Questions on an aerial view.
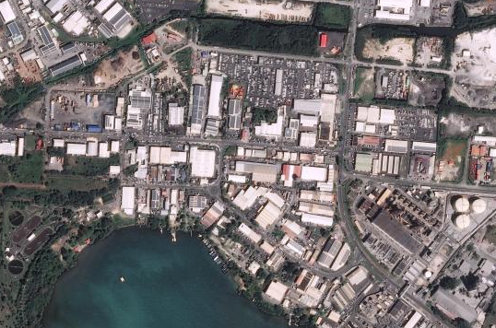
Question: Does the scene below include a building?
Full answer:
Yes, I can see a building in this picture.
